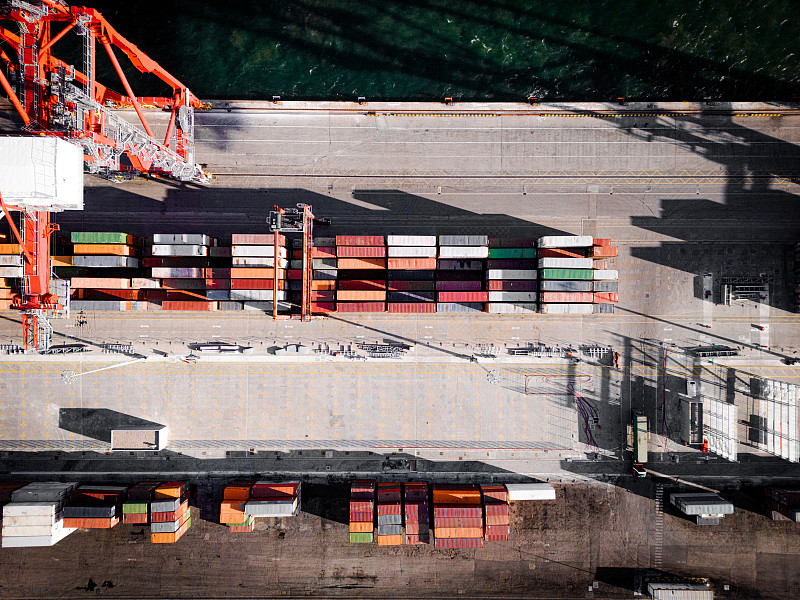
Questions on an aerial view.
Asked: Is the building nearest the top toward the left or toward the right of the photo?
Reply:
left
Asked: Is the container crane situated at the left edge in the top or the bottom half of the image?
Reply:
top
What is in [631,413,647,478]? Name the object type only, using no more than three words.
vehicle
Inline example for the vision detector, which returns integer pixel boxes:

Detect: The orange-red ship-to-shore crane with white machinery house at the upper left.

[0,0,215,345]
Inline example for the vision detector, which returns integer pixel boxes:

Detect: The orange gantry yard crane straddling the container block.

[259,197,339,326]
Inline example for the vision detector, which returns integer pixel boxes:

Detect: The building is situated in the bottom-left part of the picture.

[111,426,167,450]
